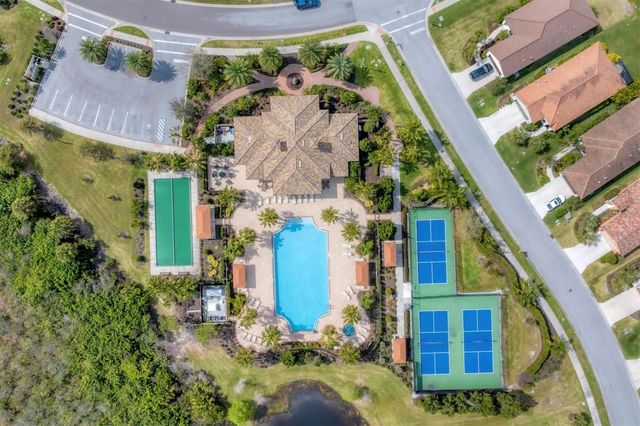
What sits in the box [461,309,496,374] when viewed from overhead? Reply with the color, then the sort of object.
blue sports court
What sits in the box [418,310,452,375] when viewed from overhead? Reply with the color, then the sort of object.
blue sports court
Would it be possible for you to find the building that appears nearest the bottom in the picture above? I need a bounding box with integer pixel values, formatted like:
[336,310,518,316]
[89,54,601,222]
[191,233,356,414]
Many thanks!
[391,336,406,364]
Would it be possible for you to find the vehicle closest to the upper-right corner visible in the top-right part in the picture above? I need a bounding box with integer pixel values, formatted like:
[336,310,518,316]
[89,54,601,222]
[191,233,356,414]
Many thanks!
[470,64,494,80]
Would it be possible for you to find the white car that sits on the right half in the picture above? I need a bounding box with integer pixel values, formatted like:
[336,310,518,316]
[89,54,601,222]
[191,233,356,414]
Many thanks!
[542,193,566,210]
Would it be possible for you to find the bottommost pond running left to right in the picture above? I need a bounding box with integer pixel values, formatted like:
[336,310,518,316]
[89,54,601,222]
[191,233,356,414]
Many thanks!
[271,389,354,426]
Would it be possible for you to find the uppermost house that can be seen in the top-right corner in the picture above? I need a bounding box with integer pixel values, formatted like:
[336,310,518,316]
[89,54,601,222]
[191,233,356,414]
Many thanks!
[489,0,601,77]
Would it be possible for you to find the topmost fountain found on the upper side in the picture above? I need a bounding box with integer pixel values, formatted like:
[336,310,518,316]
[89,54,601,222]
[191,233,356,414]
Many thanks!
[286,71,304,89]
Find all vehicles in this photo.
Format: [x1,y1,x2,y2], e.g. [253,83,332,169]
[294,0,320,8]
[470,64,494,80]
[542,193,566,210]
